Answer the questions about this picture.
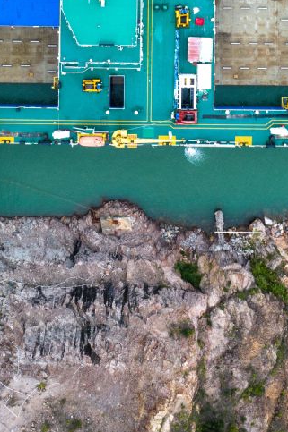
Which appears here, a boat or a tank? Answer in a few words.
boat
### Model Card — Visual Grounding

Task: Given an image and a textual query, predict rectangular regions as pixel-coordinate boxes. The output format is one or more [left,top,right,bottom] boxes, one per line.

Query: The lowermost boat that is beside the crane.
[71,125,110,149]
